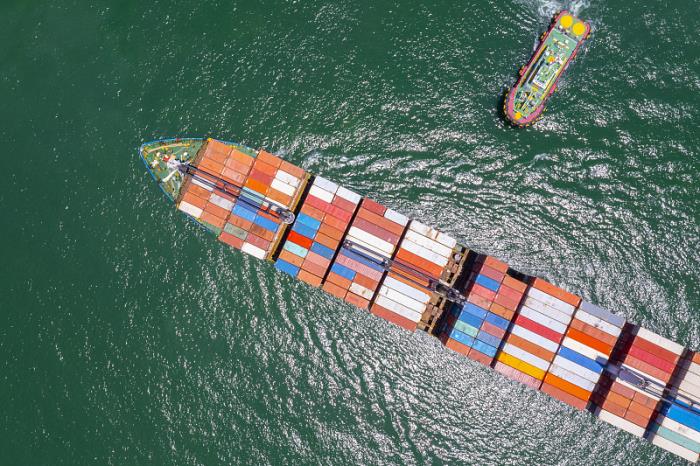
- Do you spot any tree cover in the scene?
No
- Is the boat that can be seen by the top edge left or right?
right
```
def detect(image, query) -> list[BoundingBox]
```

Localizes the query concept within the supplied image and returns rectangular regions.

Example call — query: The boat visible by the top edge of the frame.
[503,12,589,128]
